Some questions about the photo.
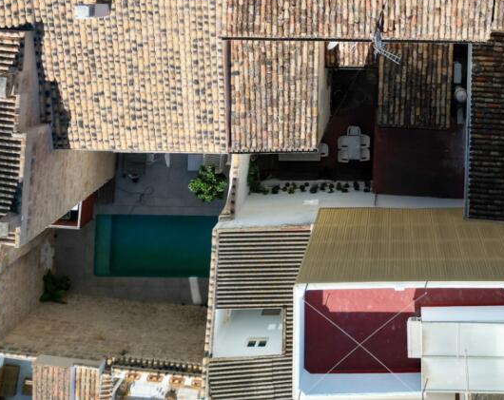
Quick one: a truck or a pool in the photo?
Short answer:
pool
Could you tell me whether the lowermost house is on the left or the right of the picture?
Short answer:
left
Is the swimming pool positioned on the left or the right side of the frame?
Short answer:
left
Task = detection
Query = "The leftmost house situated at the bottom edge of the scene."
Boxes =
[32,364,120,400]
